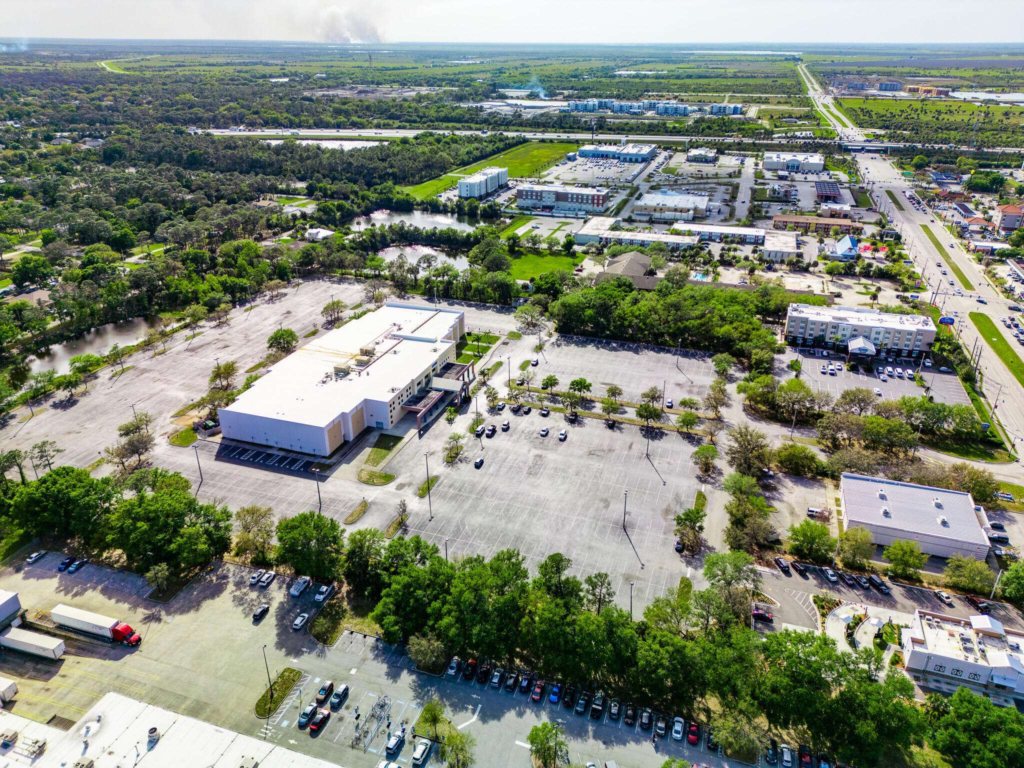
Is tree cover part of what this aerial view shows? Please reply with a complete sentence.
Yes, there is tree cover in the image.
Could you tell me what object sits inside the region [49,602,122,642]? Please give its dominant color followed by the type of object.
white trailer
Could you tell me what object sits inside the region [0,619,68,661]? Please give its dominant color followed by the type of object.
white trailer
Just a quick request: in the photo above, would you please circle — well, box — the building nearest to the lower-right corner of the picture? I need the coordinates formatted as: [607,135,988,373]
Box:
[882,603,1024,692]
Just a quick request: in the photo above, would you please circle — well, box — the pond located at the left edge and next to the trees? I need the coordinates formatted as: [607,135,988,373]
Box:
[23,315,184,380]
